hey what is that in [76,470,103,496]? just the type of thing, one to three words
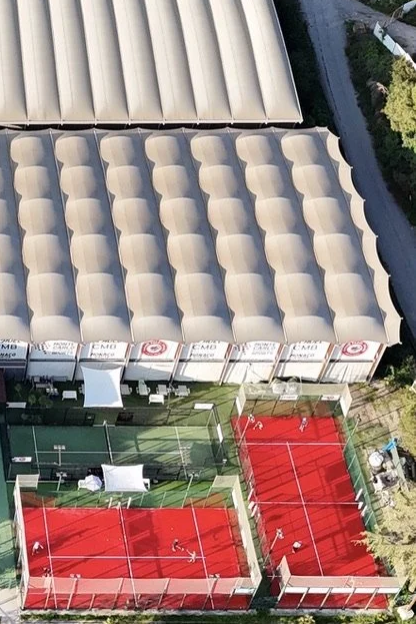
umbrella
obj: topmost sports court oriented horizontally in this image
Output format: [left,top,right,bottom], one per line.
[5,403,231,481]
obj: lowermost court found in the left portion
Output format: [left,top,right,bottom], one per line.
[14,476,265,619]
